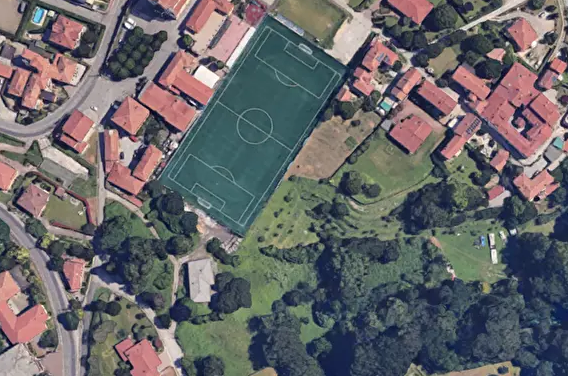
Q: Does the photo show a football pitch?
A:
Yes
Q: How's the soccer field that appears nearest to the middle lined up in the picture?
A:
at an angle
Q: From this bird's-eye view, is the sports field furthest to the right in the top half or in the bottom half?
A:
top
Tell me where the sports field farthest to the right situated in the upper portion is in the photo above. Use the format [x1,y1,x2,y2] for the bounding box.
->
[276,0,352,48]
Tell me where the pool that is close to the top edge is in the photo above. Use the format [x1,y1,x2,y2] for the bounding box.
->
[31,8,46,25]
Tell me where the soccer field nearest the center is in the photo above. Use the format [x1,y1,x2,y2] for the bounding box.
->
[161,19,349,233]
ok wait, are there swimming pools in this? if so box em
[380,99,393,112]
[31,8,46,25]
